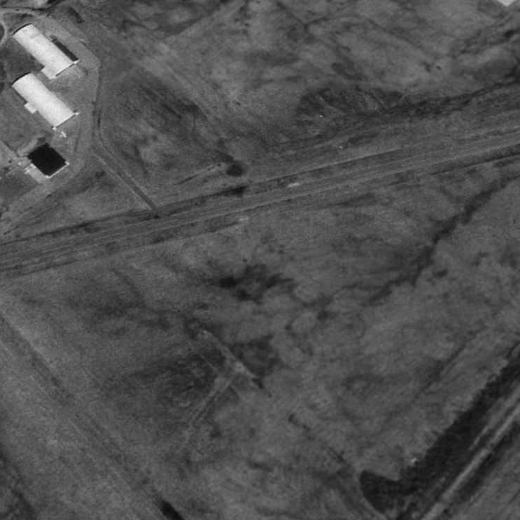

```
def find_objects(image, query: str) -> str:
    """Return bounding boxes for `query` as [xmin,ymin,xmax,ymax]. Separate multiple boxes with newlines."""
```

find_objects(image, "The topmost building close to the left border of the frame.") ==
[12,24,79,80]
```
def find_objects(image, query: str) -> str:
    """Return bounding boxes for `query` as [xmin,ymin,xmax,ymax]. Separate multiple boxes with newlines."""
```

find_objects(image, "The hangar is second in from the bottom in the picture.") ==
[11,73,78,131]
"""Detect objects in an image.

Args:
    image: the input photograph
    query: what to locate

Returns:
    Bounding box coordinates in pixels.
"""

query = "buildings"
[12,24,79,80]
[11,73,78,131]
[28,142,71,181]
